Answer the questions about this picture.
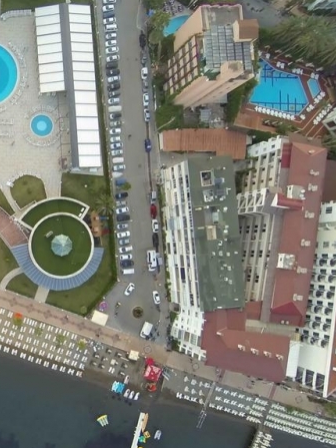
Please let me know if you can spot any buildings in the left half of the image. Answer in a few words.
Yes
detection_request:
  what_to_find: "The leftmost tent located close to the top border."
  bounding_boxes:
[32,5,66,93]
